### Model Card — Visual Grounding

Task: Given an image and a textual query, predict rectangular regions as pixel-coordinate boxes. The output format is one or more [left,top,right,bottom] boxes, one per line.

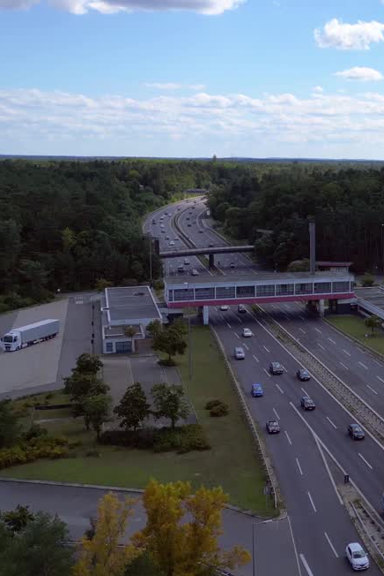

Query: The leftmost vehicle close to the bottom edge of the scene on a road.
[345,542,372,569]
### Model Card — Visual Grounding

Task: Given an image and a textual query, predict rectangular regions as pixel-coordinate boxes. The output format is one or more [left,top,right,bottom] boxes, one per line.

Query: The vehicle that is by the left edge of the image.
[3,319,68,350]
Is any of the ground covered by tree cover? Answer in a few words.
Yes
